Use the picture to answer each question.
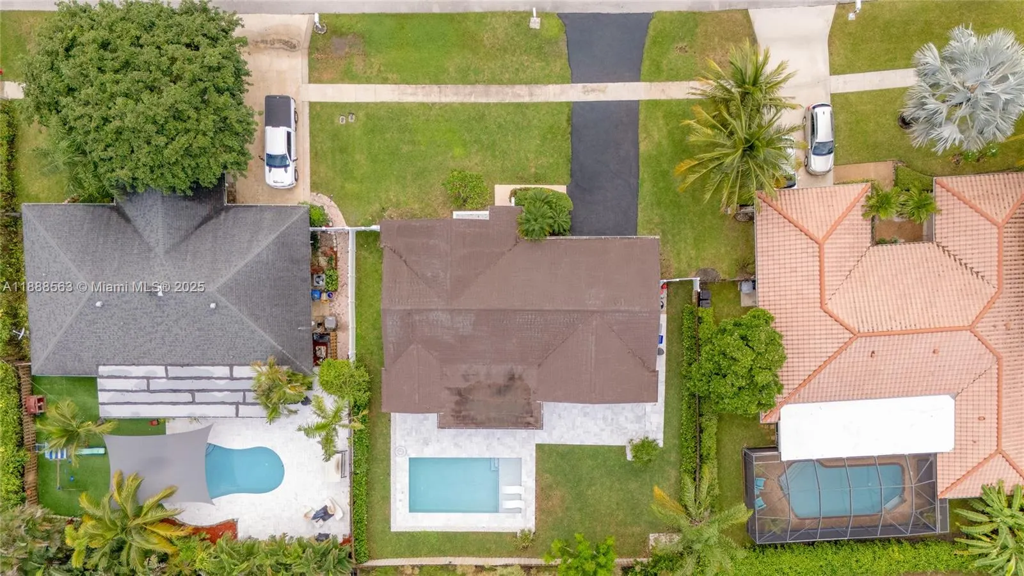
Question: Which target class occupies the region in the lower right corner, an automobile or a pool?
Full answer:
The one visible in the lower right corner is a pool.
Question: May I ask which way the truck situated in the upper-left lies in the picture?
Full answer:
The truck situated in the upper-left is oriented up and down.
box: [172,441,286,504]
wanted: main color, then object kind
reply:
blue swimming pool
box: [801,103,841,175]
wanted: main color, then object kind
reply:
white car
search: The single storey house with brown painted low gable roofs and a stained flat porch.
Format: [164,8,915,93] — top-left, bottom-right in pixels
[381,196,661,430]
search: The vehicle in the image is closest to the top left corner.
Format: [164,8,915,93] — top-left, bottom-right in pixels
[256,95,301,190]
